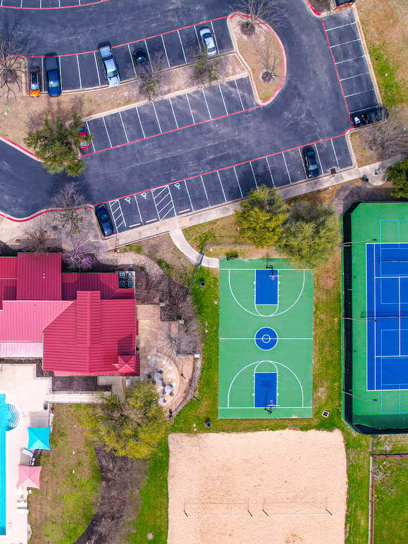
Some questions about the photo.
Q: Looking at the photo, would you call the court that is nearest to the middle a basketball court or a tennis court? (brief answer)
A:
basketball court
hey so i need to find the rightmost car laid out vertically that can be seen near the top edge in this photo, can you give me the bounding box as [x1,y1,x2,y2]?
[199,27,216,58]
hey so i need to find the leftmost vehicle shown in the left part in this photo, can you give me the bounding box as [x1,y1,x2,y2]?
[28,69,42,94]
